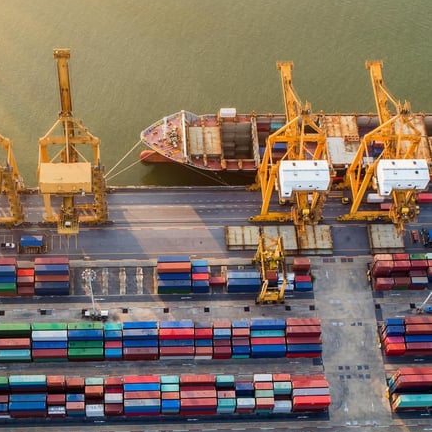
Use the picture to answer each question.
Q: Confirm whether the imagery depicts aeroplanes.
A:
No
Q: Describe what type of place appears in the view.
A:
port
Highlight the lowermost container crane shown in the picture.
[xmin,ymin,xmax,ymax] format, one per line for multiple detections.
[247,235,295,306]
